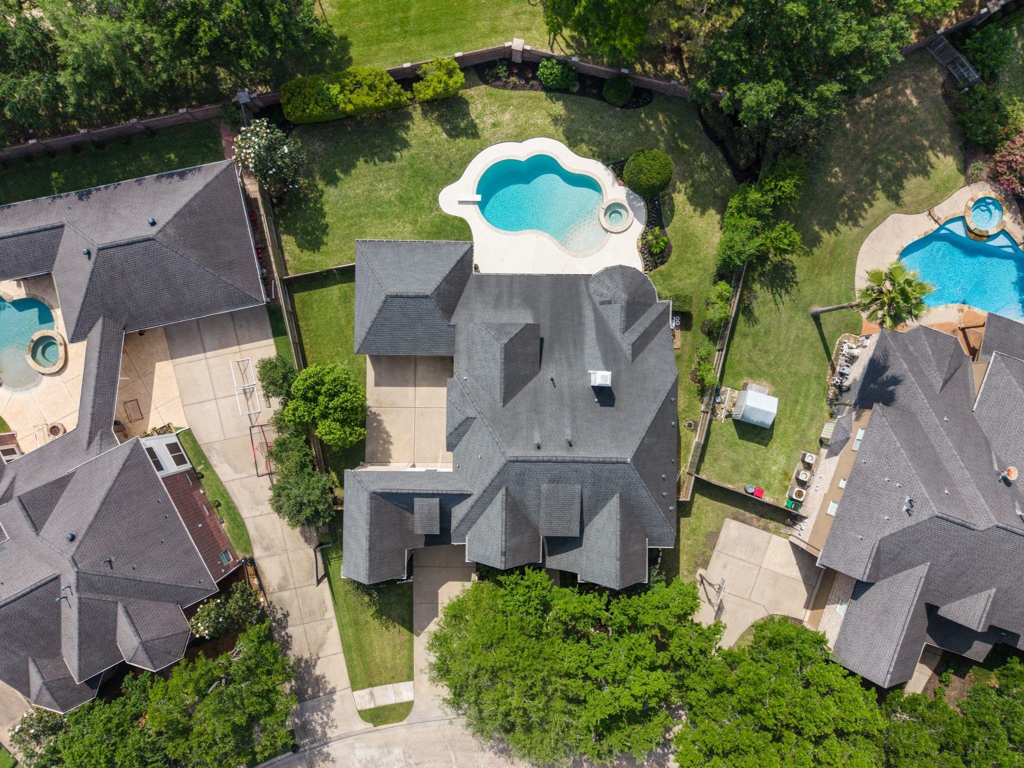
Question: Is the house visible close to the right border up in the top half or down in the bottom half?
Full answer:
It is in the bottom half that the house visible close to the right border appears.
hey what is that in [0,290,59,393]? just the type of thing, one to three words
swimming pool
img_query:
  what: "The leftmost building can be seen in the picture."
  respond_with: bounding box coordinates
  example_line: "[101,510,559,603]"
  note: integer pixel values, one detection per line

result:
[0,159,274,715]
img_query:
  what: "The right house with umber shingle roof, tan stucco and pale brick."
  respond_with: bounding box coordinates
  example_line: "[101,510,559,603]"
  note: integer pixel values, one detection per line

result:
[783,311,1024,688]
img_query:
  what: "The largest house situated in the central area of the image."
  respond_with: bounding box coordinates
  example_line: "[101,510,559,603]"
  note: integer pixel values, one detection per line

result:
[340,238,680,590]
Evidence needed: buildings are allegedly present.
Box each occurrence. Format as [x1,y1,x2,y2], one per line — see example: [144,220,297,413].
[732,394,785,428]
[0,159,274,715]
[783,311,1024,688]
[340,238,680,590]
